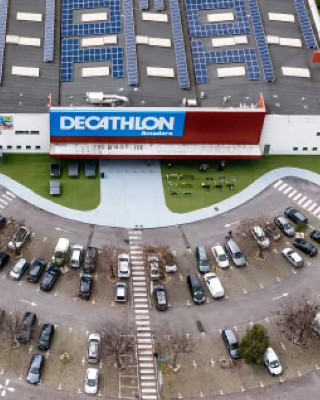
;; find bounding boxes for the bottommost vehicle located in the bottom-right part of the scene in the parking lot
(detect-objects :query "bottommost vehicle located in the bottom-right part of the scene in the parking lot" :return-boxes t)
[261,349,283,376]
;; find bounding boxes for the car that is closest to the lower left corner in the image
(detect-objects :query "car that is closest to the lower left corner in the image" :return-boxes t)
[26,353,46,387]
